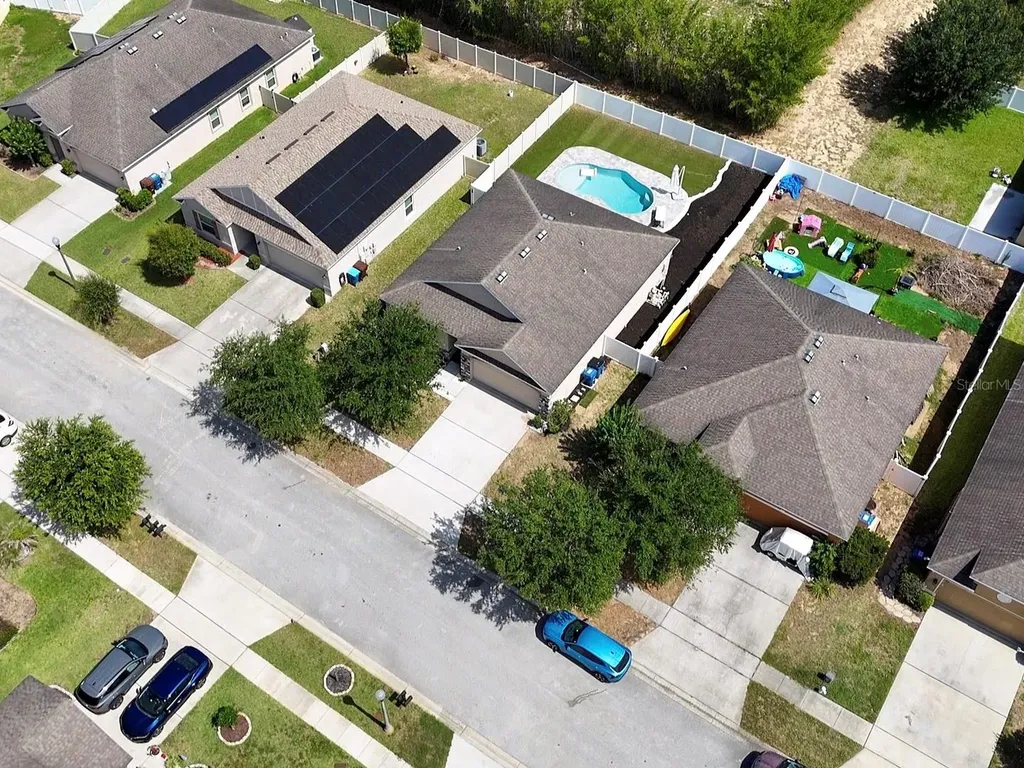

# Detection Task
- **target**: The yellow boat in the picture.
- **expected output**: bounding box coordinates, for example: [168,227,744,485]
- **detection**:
[663,308,691,344]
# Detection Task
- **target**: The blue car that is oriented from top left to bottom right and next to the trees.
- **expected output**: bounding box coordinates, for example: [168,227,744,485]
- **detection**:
[543,611,635,685]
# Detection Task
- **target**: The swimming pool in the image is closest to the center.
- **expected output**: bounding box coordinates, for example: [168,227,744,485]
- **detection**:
[554,161,657,216]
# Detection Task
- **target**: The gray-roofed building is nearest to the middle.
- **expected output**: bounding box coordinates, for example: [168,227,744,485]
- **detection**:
[378,169,679,417]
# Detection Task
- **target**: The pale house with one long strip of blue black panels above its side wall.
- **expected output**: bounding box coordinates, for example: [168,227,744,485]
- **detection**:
[0,0,316,196]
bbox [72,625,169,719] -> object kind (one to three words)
car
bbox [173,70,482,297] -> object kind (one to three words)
house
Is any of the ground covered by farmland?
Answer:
No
